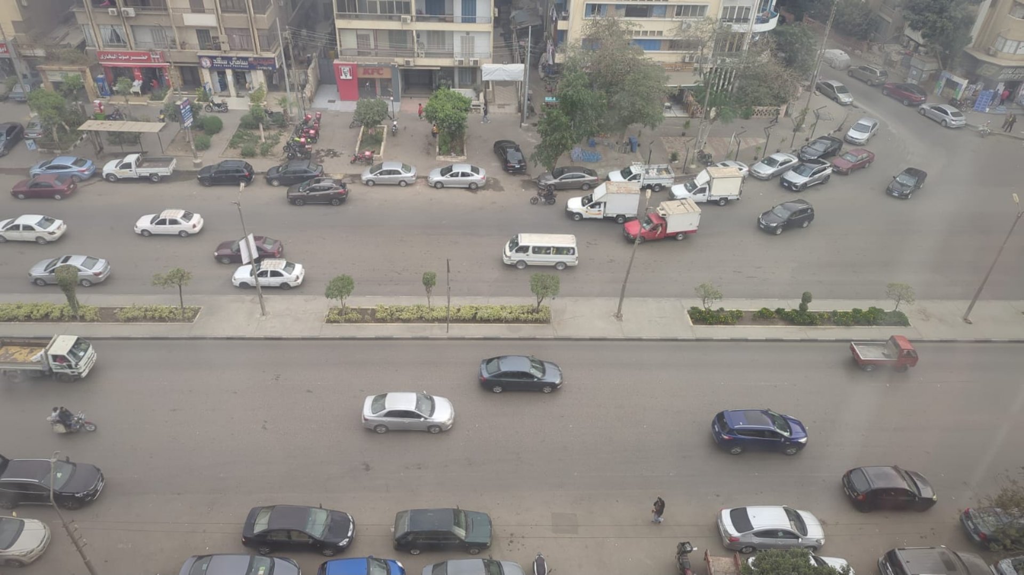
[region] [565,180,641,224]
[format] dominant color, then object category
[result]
white truck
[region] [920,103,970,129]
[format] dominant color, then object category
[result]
gray car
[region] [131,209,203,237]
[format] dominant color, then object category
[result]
white car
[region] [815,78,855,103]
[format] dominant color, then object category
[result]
gray car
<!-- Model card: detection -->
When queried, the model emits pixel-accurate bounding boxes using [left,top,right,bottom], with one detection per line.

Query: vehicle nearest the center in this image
[505,231,579,270]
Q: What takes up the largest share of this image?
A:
paved ground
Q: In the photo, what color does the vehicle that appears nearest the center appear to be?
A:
white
